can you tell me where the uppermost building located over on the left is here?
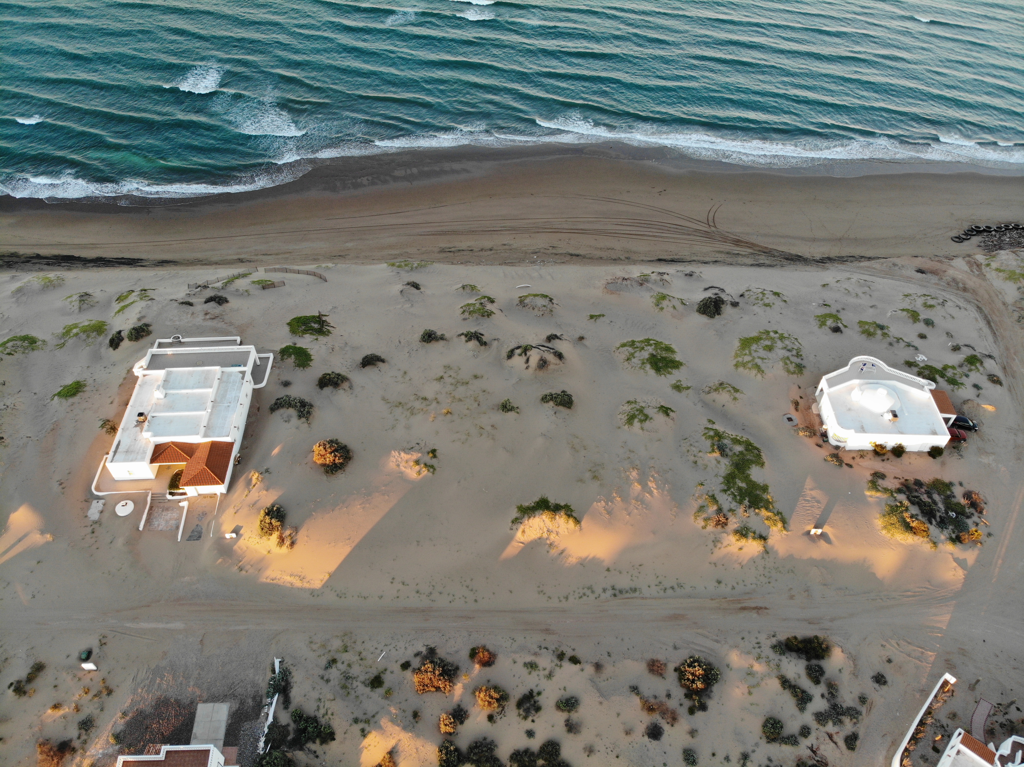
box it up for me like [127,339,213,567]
[106,345,262,500]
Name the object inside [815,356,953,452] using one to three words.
house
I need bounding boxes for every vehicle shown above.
[947,426,970,445]
[949,416,981,433]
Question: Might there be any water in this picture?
Yes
